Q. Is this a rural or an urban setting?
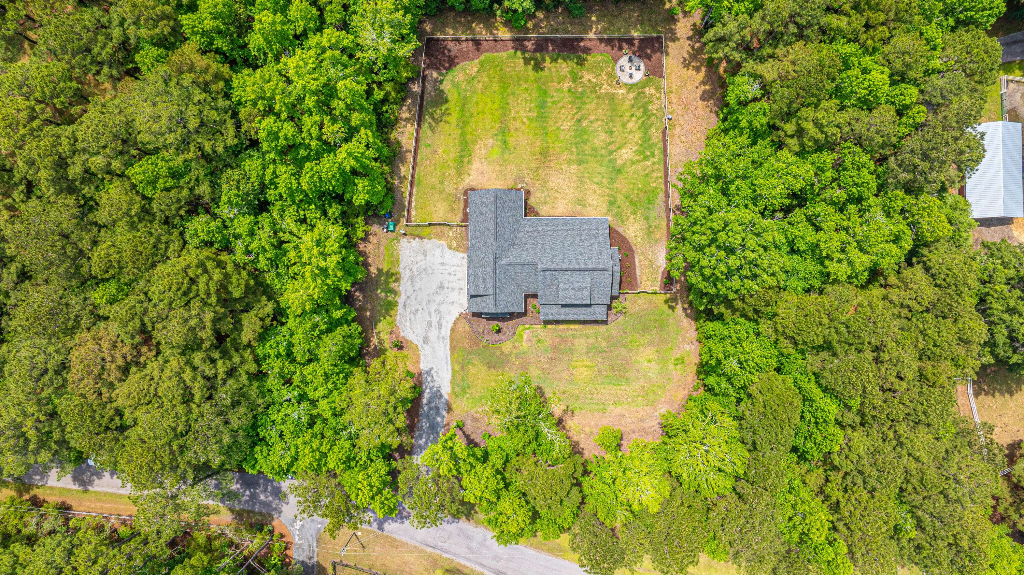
rural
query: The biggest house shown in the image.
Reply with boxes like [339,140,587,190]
[466,188,621,320]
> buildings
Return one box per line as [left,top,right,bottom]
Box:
[954,120,1022,219]
[466,188,621,320]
